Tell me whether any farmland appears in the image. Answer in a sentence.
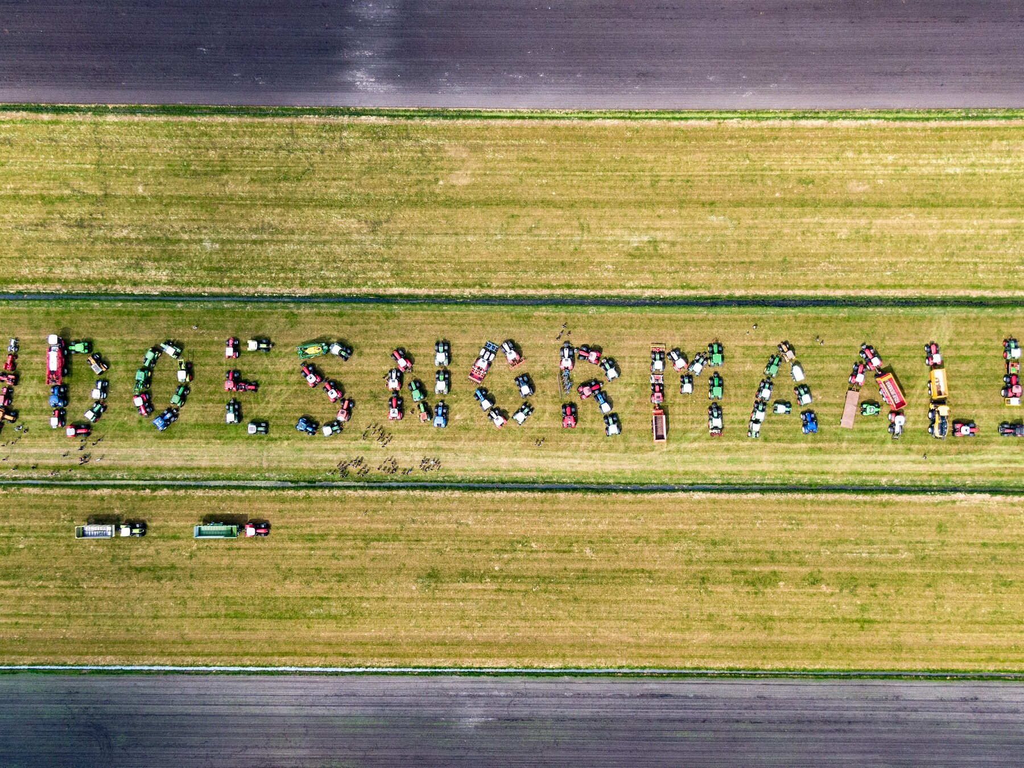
Yes, there is farmland in the image.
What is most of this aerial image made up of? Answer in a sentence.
For the most part, this view shows grass.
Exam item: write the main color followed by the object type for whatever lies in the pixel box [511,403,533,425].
white work vehicle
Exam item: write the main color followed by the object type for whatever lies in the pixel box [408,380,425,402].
green work vehicle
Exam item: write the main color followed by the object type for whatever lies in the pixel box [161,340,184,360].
white work vehicle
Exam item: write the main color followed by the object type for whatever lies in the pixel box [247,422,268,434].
white vehicle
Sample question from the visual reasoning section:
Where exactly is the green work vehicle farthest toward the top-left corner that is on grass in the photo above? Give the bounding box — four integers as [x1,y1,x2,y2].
[70,342,92,354]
